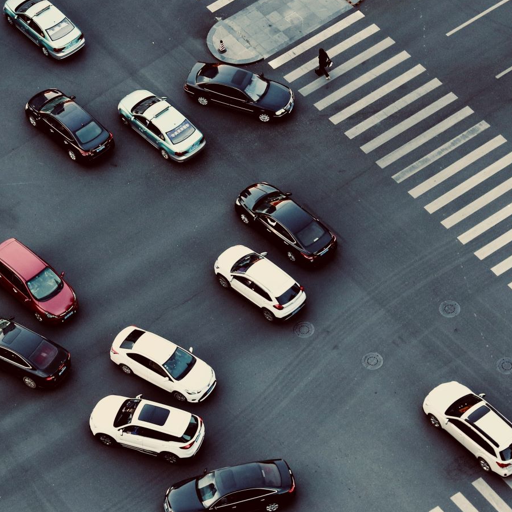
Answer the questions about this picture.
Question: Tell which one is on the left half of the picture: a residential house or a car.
car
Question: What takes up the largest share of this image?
paved ground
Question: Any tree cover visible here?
No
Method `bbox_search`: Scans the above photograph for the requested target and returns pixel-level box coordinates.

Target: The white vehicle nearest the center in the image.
[213,246,311,323]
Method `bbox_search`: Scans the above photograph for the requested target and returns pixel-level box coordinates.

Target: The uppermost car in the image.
[2,0,85,61]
